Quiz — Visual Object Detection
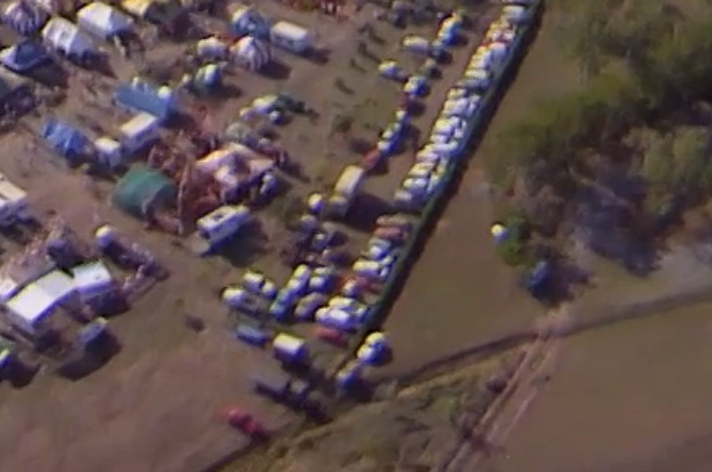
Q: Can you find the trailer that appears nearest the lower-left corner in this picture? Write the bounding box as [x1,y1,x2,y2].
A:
[78,317,118,356]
